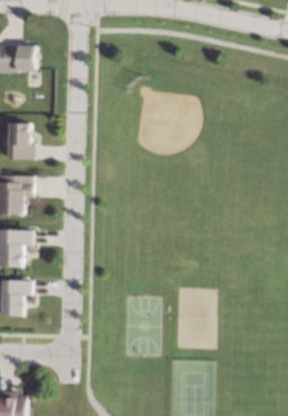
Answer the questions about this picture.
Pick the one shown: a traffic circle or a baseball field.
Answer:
baseball field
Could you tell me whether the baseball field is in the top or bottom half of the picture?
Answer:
top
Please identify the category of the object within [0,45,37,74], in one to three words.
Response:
house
